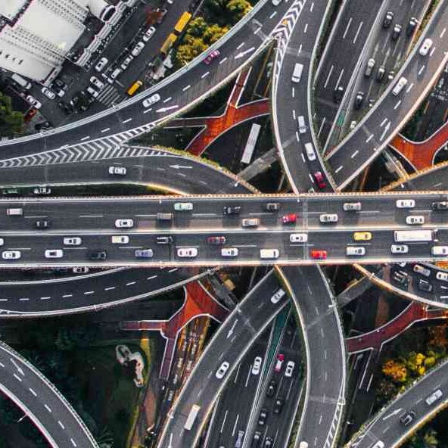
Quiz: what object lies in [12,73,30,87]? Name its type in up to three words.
vehicle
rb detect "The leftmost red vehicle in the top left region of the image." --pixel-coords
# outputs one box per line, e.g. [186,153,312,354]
[24,106,39,122]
